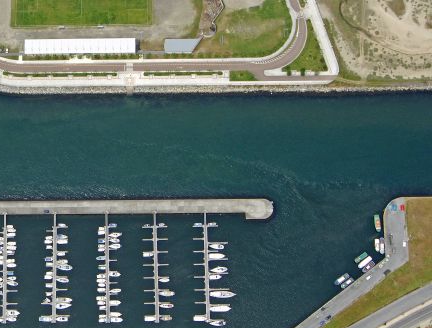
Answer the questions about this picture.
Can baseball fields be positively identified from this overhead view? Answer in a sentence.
No, I can see no baseball field in this picture.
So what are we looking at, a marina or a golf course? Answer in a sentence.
It's a marina.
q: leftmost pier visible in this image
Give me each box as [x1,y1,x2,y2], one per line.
[0,215,18,324]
